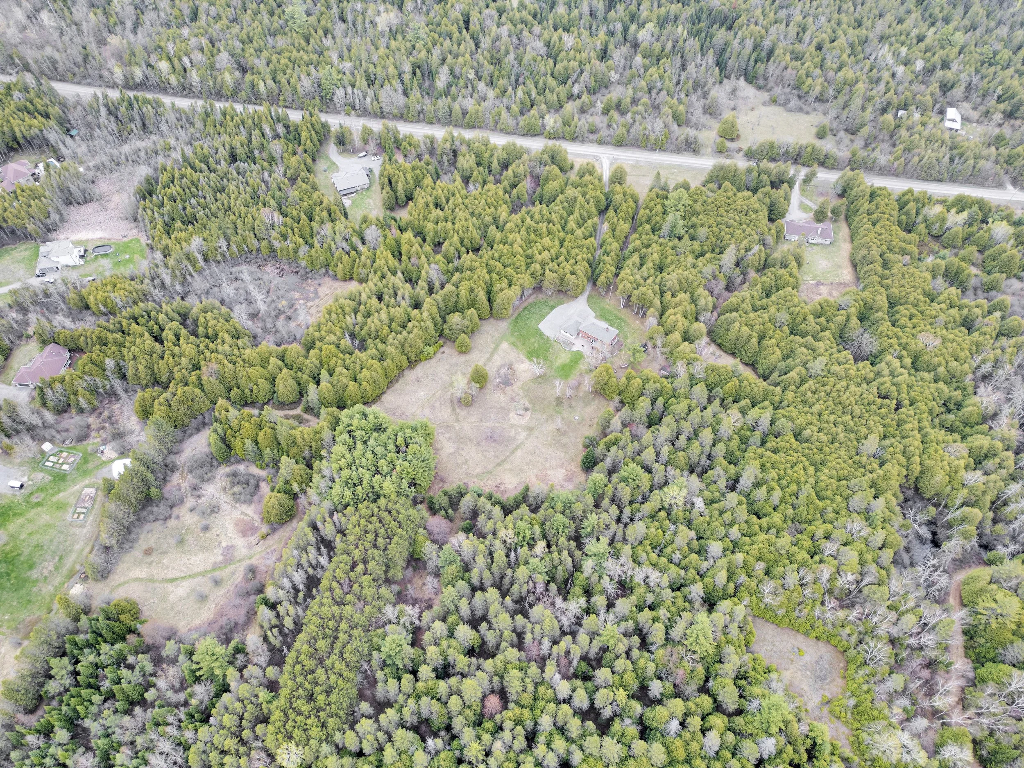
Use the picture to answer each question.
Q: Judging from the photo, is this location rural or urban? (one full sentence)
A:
The area is rural.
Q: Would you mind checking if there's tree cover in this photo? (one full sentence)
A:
Yes, tree cover can be seen from above here.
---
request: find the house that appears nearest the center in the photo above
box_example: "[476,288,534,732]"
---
[561,316,620,356]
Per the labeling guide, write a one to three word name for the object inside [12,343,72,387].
house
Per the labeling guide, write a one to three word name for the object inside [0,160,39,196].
house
